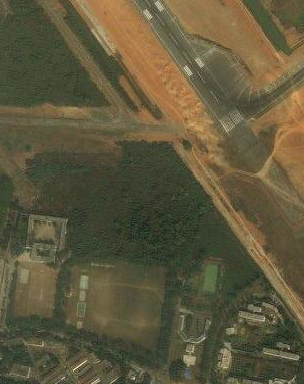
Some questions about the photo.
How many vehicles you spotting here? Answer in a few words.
0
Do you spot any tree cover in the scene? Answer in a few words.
Yes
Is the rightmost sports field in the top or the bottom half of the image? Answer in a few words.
bottom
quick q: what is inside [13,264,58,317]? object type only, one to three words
sports field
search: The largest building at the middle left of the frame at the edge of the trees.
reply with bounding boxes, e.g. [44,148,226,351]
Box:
[27,214,68,249]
